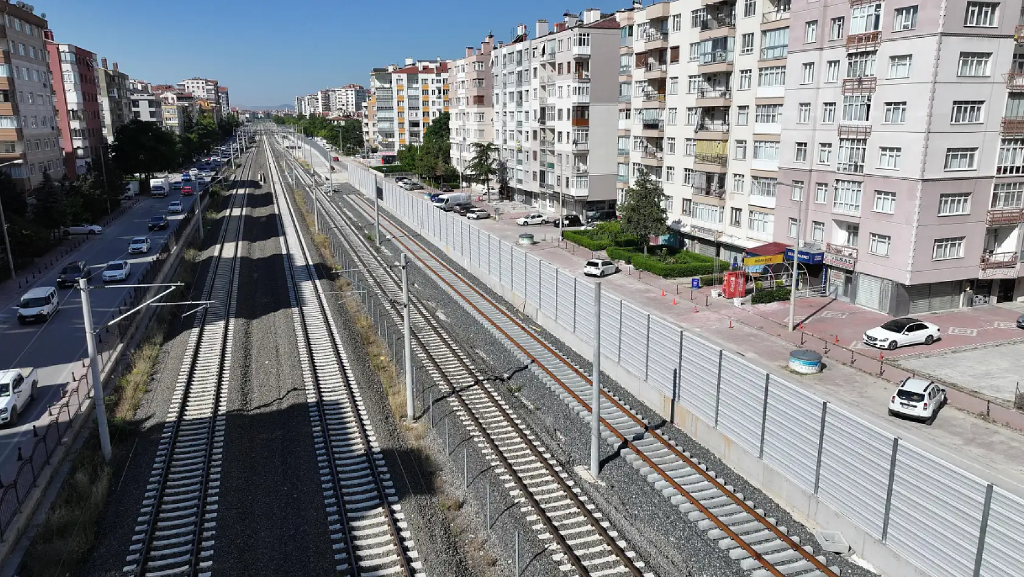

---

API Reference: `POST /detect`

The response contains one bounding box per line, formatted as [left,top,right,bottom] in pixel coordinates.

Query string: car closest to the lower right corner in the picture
[885,373,949,428]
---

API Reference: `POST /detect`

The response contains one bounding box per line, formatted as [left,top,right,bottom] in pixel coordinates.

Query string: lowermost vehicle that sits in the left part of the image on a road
[0,366,39,421]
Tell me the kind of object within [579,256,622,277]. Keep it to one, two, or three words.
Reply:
car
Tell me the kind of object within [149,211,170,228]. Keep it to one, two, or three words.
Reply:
car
